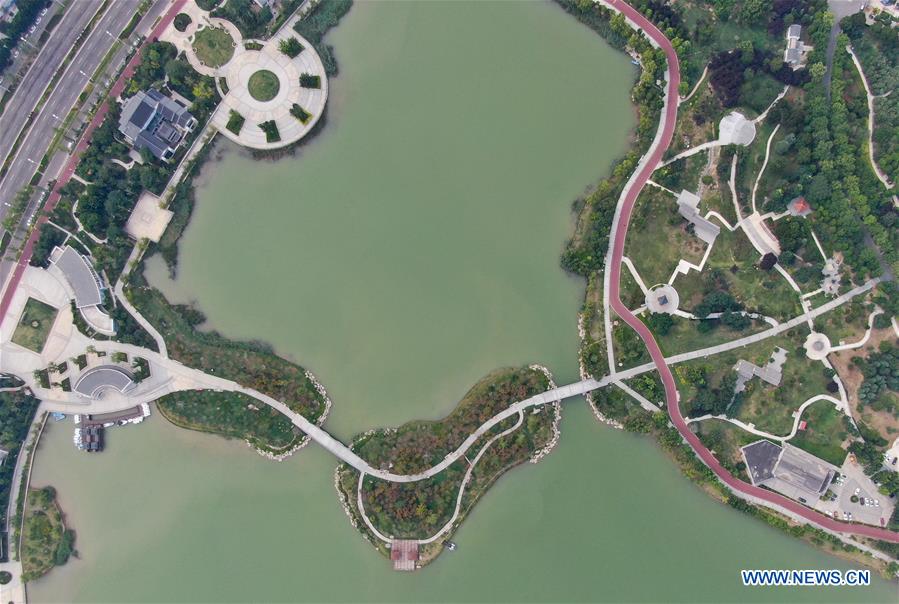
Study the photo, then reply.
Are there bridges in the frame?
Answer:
Yes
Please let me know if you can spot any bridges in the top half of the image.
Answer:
No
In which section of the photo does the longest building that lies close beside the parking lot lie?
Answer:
bottom right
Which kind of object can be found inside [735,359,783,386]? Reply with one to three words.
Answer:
building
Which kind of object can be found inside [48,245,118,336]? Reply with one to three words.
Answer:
building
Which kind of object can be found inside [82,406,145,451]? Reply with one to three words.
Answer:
pier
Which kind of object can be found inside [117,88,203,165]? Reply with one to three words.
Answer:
house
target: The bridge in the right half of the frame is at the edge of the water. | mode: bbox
[534,378,597,404]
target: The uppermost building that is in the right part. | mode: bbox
[782,25,803,65]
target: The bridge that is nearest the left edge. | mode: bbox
[299,419,356,463]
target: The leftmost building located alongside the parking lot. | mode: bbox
[737,437,837,494]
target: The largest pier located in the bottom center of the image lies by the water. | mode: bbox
[392,539,418,570]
